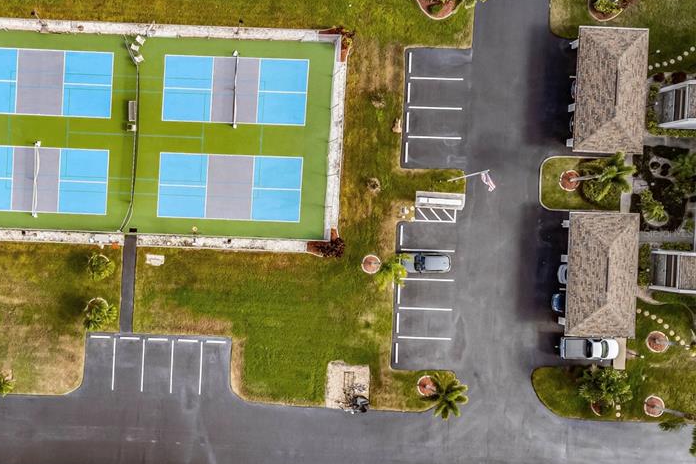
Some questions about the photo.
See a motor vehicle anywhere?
Yes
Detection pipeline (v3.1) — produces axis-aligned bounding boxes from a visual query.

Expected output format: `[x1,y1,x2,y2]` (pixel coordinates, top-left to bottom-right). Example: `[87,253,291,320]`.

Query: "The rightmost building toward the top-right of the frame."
[658,84,696,129]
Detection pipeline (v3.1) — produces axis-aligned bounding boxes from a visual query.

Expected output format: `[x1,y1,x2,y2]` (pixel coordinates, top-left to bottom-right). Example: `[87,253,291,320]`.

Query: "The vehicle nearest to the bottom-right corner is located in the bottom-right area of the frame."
[554,336,620,364]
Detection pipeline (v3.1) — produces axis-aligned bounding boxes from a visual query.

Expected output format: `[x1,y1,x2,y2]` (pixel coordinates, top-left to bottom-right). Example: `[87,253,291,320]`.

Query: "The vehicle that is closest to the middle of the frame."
[402,250,449,275]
